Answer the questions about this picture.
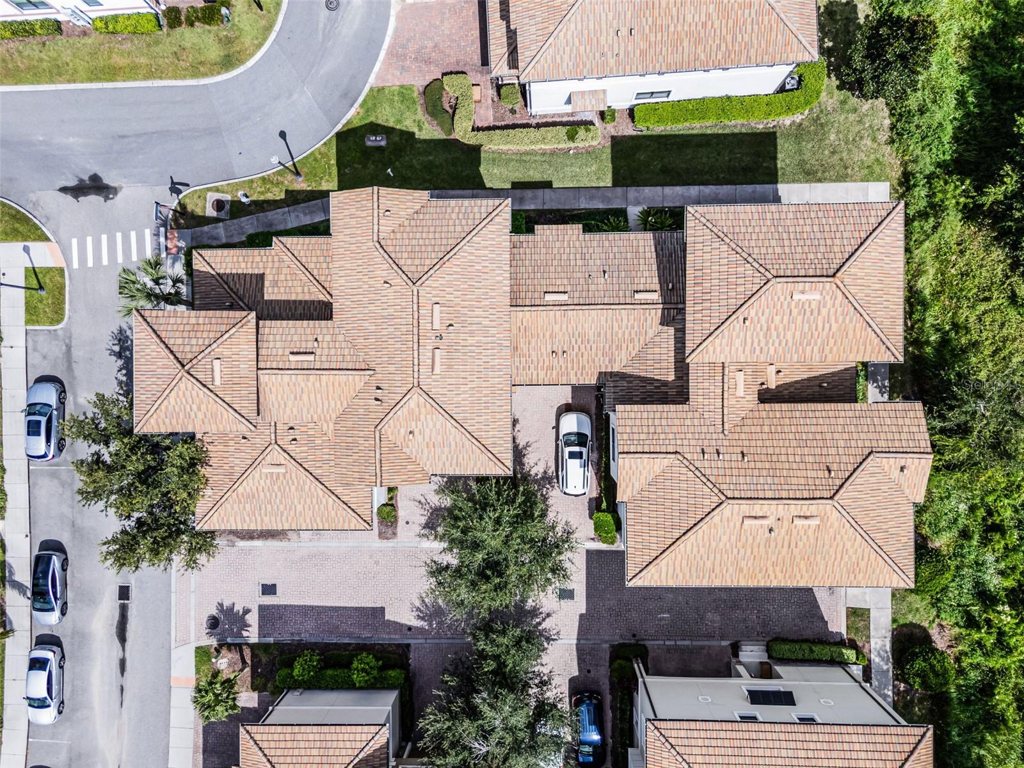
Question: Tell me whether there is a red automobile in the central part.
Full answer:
No, in the central part there is no red automobile.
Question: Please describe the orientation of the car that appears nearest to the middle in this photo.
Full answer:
In this picture, the car that appears nearest to the middle lies vertically.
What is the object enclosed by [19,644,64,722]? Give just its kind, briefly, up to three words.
car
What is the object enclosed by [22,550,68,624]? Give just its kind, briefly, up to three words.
car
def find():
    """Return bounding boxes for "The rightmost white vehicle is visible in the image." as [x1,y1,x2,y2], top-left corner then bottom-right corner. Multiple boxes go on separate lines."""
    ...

[554,410,595,496]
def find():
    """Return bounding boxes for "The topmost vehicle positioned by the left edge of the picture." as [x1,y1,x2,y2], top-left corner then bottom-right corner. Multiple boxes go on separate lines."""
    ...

[19,381,66,460]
